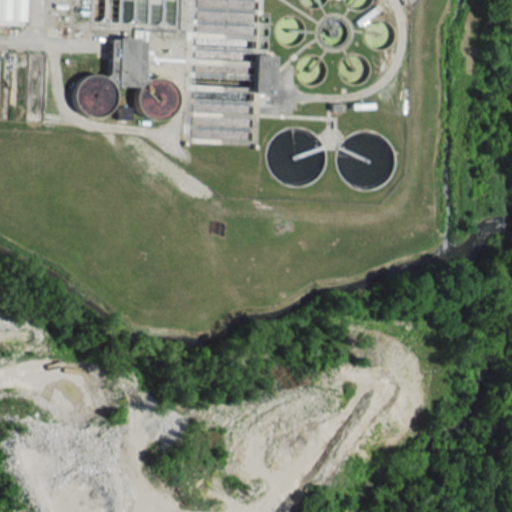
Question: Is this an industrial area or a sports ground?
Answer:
industrial area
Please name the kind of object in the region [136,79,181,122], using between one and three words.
storage tank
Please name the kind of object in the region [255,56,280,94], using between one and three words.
building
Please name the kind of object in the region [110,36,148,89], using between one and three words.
building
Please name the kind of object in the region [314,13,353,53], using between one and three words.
storage tank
